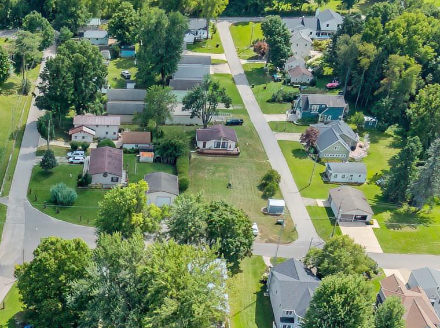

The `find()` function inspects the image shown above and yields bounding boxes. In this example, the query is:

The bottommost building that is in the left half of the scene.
[144,170,180,205]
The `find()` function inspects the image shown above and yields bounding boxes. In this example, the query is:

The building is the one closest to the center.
[195,126,241,158]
